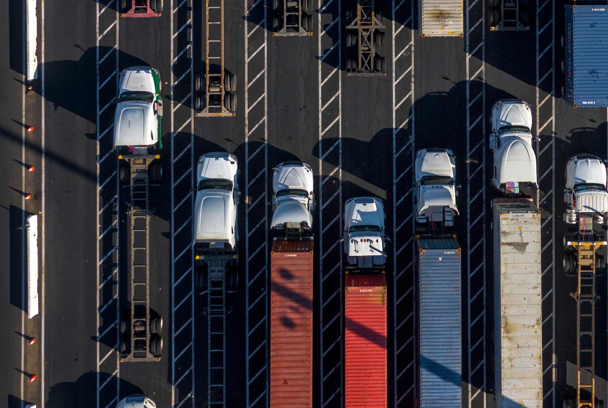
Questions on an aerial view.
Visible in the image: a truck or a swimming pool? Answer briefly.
truck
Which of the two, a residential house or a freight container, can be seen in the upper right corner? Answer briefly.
freight container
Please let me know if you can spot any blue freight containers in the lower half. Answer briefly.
Yes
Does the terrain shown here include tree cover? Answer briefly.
No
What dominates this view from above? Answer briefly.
paved ground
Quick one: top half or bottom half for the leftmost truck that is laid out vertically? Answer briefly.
top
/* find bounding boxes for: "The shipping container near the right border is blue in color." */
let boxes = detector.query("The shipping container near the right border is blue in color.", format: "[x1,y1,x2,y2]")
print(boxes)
[564,3,608,108]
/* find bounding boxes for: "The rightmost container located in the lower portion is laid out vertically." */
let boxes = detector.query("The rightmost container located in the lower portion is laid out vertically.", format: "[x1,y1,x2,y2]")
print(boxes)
[494,201,541,408]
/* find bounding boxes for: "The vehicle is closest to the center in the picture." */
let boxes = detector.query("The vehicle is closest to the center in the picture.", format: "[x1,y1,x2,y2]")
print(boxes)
[267,159,318,239]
